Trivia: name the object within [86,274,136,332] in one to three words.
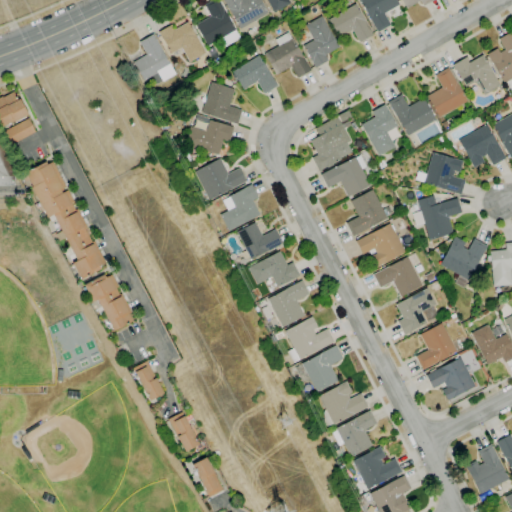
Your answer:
house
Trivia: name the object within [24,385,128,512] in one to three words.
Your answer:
baseball field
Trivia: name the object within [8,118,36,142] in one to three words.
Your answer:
house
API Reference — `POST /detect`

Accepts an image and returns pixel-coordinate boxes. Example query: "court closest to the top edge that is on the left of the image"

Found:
[50,314,104,380]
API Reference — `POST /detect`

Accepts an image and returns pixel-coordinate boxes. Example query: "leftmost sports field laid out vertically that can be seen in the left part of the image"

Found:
[0,269,53,388]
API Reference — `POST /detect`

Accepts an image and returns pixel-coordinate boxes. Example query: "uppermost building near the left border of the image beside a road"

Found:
[0,90,29,126]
